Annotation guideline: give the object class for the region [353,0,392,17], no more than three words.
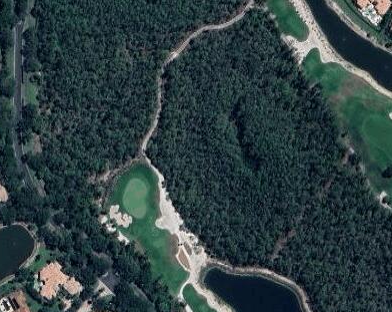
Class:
house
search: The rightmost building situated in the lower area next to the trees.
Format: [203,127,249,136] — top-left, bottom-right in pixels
[37,259,84,302]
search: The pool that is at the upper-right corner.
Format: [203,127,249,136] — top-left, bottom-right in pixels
[364,4,382,25]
